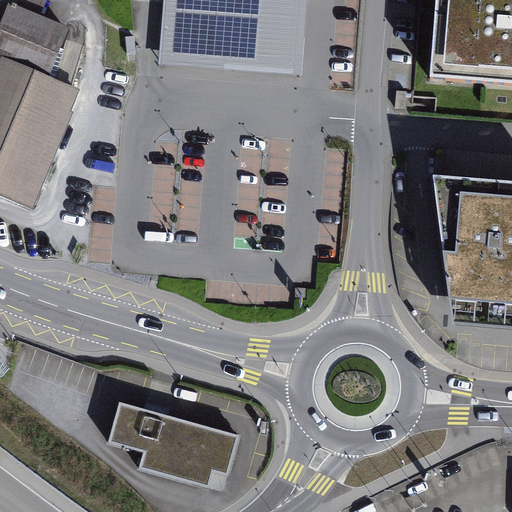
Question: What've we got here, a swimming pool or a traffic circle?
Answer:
traffic circle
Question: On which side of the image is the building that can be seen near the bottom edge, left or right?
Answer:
left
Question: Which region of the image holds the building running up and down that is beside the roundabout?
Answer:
right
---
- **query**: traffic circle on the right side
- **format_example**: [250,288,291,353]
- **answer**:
[286,316,427,456]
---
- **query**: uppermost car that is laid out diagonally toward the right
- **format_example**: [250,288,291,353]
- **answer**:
[390,220,412,240]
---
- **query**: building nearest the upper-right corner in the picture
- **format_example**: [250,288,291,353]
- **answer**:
[428,0,512,86]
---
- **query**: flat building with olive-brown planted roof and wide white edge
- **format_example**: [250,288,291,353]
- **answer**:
[108,402,240,492]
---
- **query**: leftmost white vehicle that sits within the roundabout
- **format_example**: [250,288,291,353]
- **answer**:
[308,408,327,431]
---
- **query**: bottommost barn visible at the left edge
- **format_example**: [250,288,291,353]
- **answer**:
[0,56,80,210]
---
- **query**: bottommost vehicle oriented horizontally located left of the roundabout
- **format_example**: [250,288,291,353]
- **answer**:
[173,388,198,400]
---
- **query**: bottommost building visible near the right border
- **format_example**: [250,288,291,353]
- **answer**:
[432,174,512,330]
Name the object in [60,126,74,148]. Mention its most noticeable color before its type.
black car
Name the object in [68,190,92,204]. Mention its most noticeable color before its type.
black car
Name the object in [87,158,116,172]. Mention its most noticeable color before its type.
blue vehicle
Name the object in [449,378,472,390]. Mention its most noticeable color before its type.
white vehicle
